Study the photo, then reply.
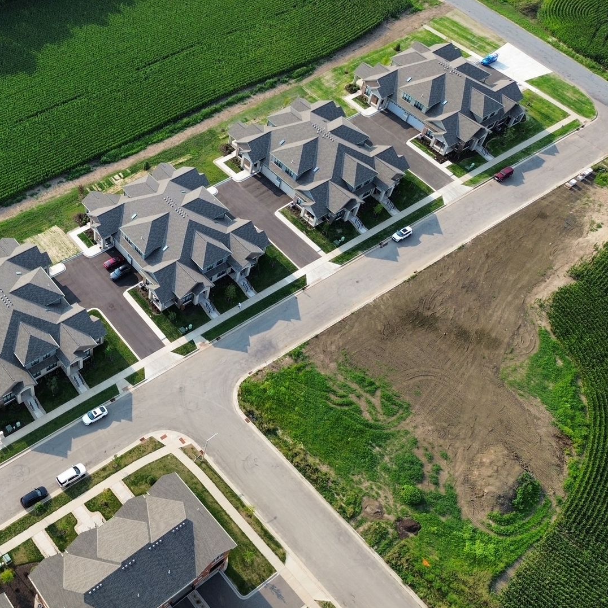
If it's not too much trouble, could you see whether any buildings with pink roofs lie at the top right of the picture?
No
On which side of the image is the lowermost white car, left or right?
left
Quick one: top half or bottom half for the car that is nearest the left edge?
bottom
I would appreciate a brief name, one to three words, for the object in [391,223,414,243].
car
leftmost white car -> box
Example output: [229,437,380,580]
[53,463,88,489]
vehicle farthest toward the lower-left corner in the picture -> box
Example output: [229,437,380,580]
[17,484,50,511]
